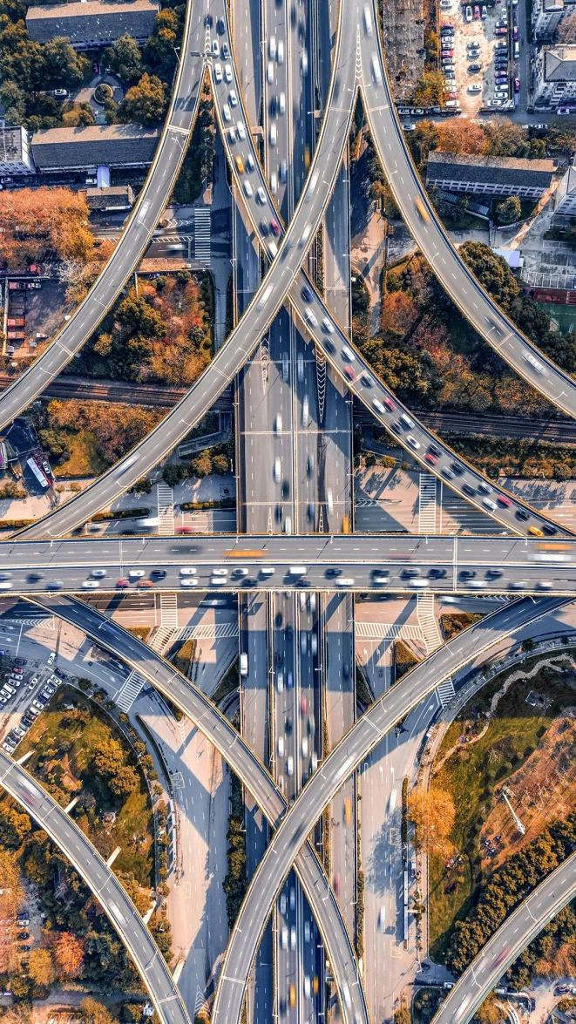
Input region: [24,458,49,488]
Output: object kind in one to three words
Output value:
bus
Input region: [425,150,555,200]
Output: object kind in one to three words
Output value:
building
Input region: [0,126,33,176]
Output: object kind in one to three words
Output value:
building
